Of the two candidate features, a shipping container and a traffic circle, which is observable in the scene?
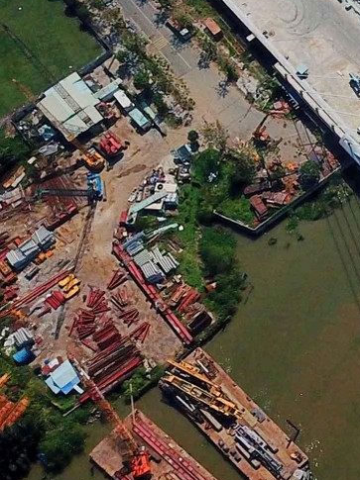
shipping container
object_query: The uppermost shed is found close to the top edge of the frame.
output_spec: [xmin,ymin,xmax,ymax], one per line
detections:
[202,17,225,42]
